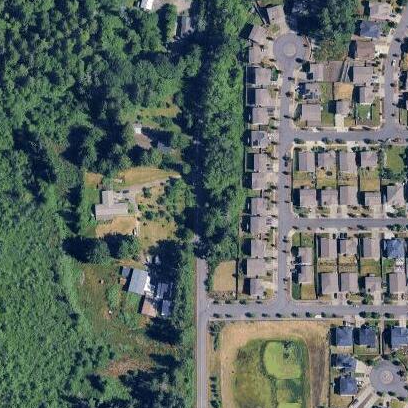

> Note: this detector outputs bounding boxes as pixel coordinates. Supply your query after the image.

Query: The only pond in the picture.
[264,346,303,408]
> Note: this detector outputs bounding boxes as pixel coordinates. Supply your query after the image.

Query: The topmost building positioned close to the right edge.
[370,3,392,20]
